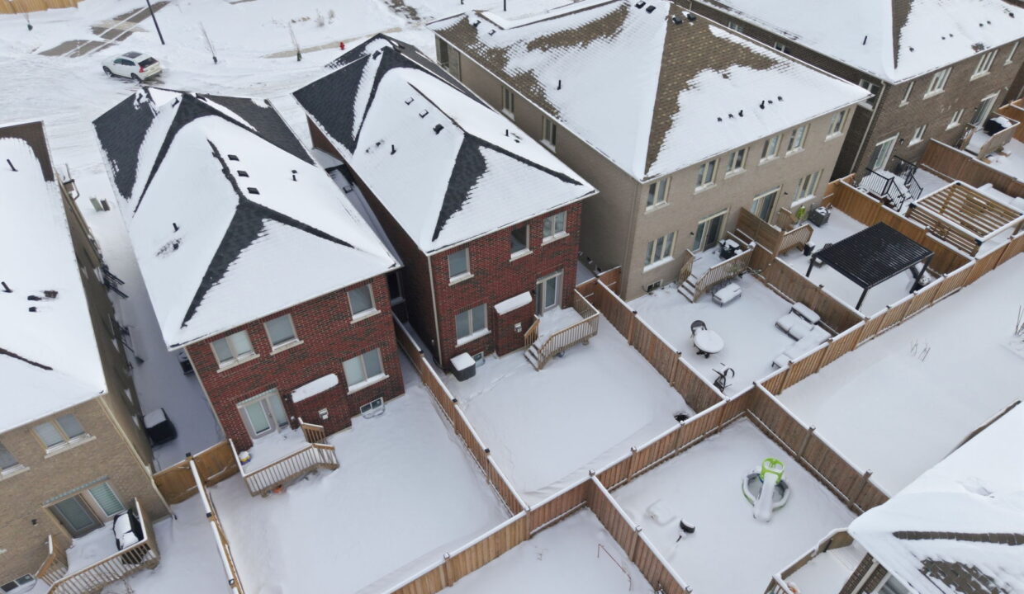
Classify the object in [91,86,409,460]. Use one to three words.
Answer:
house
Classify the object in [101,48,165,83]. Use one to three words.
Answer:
car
